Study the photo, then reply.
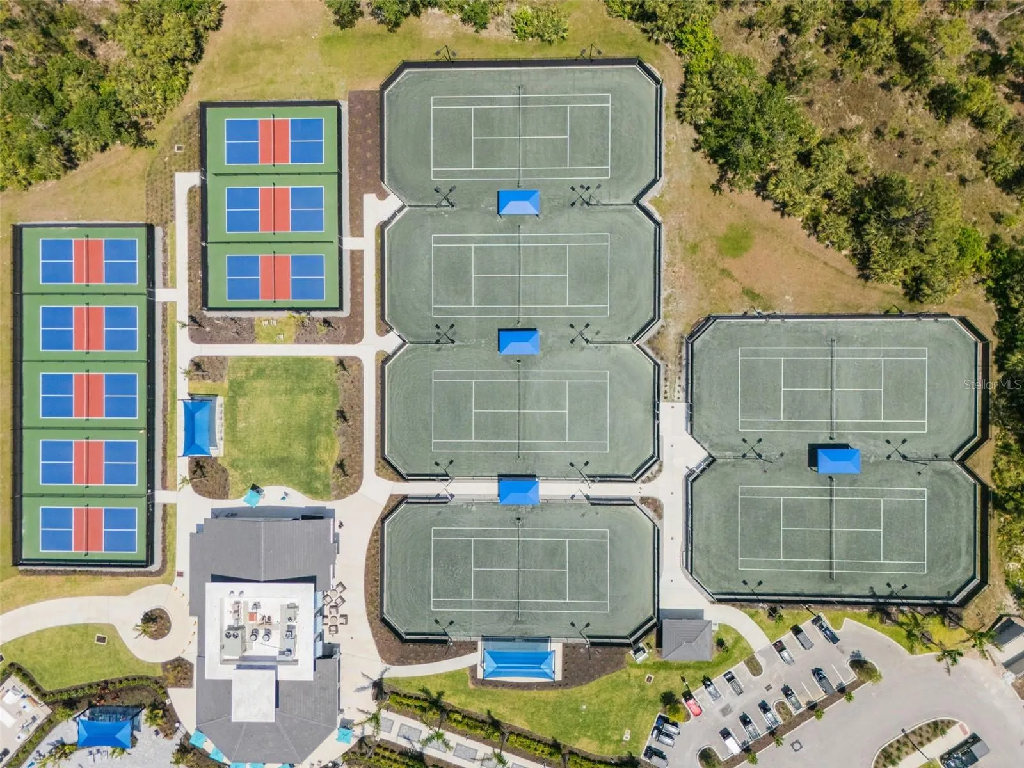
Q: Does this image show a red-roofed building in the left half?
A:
No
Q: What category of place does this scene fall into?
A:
sports ground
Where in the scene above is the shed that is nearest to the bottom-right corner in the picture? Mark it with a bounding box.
[994,643,1024,677]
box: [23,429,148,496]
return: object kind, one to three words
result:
sports court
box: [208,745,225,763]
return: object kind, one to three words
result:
umbrella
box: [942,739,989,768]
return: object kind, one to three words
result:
truck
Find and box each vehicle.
[759,704,779,727]
[942,739,989,768]
[775,644,795,666]
[725,673,744,696]
[817,622,839,644]
[741,718,760,741]
[684,693,703,716]
[722,731,741,755]
[660,716,679,736]
[783,688,803,711]
[655,727,675,747]
[703,678,721,701]
[792,627,814,649]
[648,747,668,768]
[814,672,835,695]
